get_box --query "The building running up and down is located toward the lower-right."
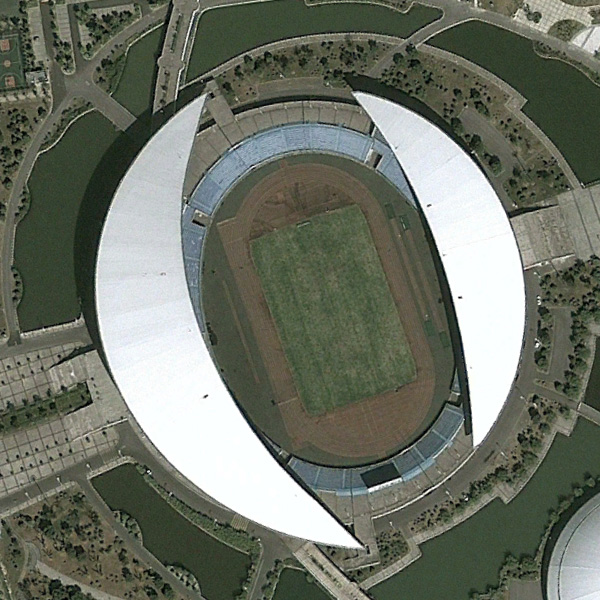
[547,493,600,600]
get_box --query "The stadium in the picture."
[49,80,574,572]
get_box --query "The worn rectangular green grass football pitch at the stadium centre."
[249,204,416,415]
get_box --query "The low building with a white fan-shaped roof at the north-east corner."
[569,22,600,57]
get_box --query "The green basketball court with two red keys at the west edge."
[0,32,25,91]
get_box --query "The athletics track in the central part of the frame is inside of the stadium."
[203,152,456,467]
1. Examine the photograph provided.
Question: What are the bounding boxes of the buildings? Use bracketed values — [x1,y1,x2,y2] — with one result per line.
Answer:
[547,493,600,600]
[569,22,600,57]
[26,71,50,84]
